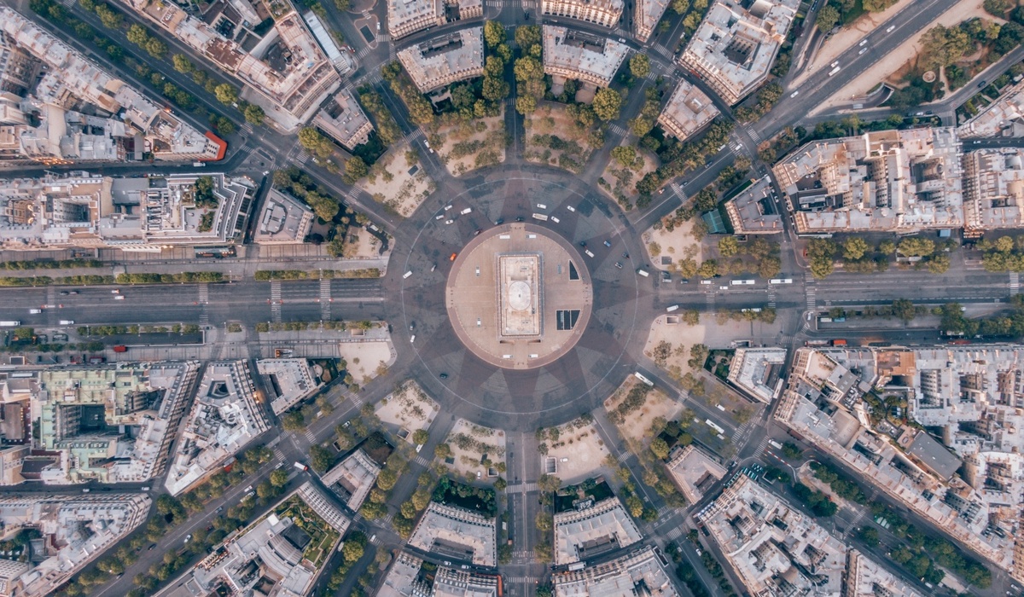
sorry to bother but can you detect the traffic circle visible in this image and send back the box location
[386,163,652,429]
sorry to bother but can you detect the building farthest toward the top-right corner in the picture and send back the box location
[962,84,1024,145]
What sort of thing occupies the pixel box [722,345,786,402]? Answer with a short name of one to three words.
building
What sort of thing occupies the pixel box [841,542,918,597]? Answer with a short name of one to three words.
building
